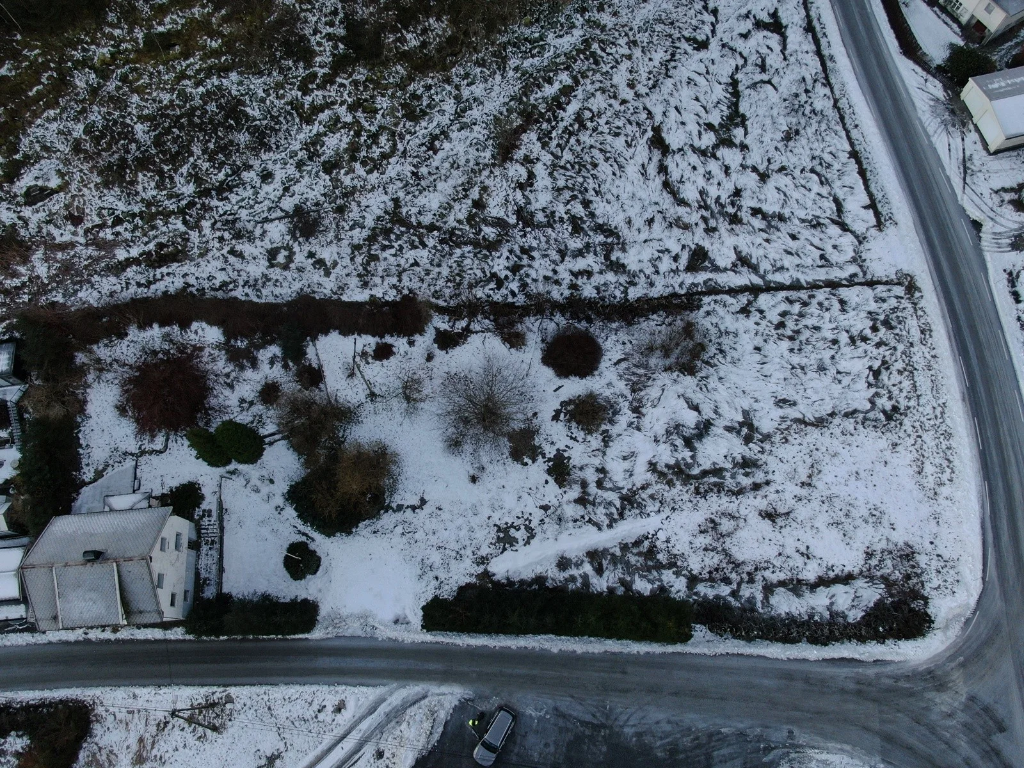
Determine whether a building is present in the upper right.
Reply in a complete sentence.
Yes, you'll find a building in the upper right.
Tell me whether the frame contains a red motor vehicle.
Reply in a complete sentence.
No, no red motor vehicle is visible in the view.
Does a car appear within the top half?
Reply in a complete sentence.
No, there is no car within the top half.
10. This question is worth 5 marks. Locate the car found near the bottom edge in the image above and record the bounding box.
[473,705,517,767]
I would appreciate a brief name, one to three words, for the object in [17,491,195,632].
house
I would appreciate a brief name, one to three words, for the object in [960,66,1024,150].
building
